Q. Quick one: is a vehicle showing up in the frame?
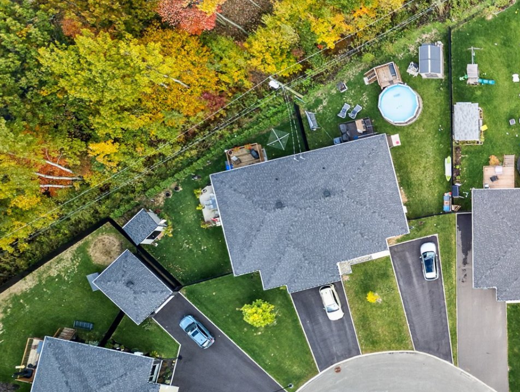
Yes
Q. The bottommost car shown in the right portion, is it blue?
No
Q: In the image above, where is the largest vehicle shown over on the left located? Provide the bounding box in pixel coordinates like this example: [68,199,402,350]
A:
[180,315,215,349]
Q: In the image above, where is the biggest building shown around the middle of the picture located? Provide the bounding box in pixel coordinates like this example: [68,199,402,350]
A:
[210,133,408,293]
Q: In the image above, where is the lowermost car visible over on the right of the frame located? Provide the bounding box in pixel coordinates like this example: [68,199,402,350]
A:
[318,284,343,321]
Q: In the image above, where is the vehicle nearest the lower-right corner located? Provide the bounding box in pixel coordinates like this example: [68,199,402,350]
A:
[420,241,439,280]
